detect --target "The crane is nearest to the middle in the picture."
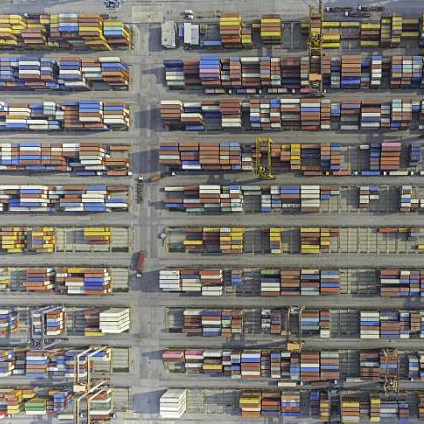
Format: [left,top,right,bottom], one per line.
[255,136,279,182]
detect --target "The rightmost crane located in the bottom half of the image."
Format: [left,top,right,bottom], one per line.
[376,346,401,397]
